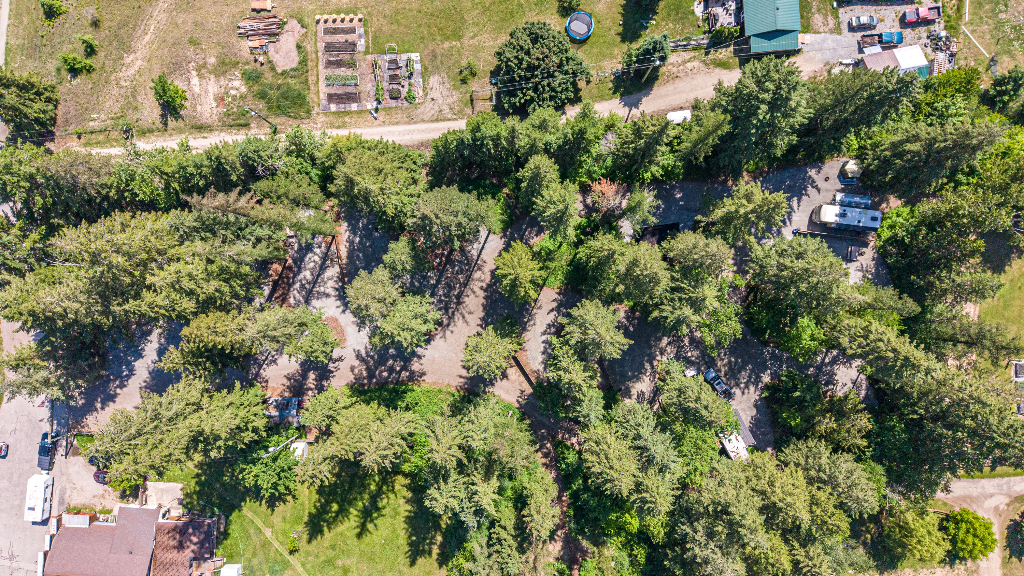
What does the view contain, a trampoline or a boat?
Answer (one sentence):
There is a trampoline in the scene.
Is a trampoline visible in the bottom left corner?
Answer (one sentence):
No, no trampoline can be made out in the bottom left corner.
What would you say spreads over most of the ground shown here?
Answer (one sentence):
The bulk of the photo consists of trees.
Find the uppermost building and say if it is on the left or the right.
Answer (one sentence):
You can find the uppermost building on the right side of the picture.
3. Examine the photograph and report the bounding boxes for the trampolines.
[567,8,595,39]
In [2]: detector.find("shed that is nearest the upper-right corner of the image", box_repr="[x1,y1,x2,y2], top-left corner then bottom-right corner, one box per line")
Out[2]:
[863,43,938,80]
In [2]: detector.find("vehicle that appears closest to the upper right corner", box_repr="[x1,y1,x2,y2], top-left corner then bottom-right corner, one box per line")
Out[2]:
[903,6,944,24]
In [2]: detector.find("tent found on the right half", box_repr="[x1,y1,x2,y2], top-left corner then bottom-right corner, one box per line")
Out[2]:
[840,160,864,180]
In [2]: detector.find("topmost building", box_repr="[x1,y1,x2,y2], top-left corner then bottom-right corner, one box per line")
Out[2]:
[739,0,803,54]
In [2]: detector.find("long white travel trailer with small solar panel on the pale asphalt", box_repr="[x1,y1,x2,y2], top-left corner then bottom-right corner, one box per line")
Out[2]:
[22,470,52,527]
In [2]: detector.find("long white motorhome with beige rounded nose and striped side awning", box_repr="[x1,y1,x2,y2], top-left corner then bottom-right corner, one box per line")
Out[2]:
[812,192,888,231]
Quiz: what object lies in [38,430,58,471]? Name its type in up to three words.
vehicle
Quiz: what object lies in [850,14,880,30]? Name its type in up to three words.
car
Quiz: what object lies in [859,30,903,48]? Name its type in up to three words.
vehicle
